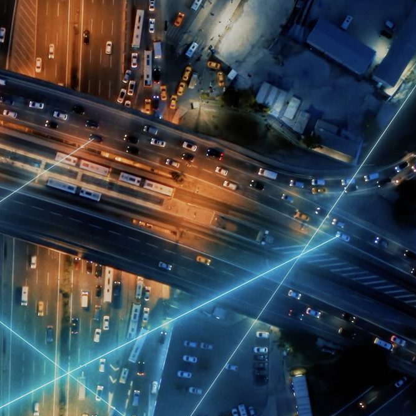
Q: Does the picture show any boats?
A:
No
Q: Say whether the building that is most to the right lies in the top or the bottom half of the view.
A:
top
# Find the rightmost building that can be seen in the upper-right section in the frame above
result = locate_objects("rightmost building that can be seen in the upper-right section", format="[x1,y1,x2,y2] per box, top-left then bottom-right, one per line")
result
[367,0,416,93]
